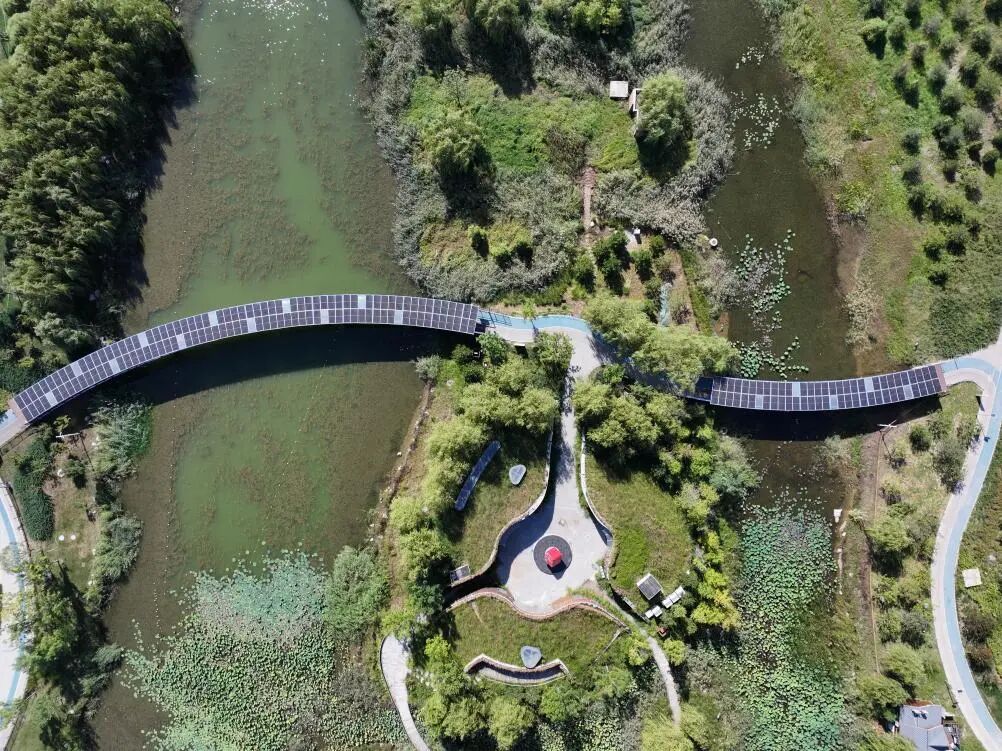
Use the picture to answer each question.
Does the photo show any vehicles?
No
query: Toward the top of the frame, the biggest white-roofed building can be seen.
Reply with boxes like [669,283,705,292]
[607,81,628,105]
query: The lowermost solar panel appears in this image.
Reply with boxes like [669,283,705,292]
[638,575,660,597]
